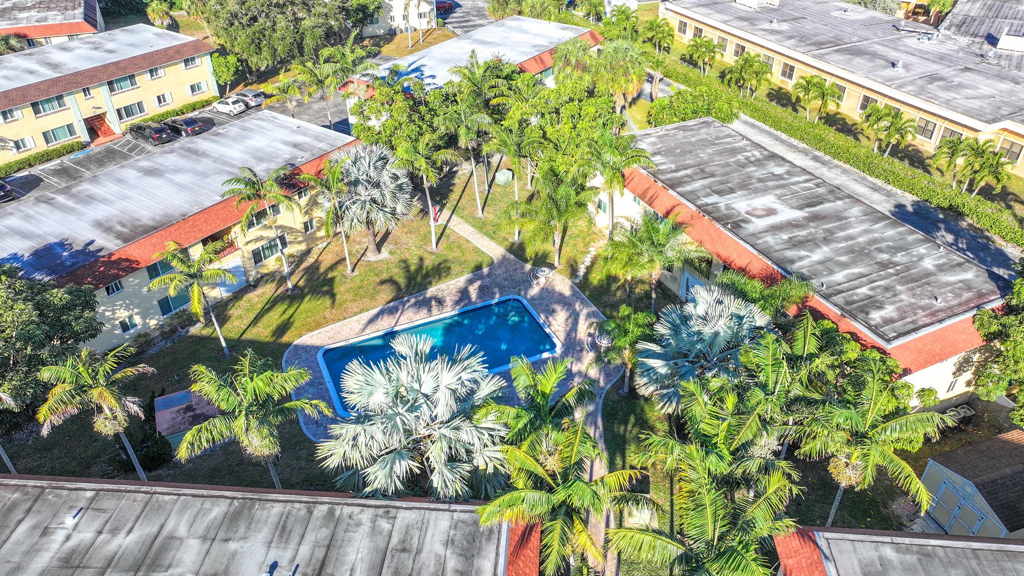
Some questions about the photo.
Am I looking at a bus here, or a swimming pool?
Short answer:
swimming pool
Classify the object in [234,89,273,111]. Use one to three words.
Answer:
car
